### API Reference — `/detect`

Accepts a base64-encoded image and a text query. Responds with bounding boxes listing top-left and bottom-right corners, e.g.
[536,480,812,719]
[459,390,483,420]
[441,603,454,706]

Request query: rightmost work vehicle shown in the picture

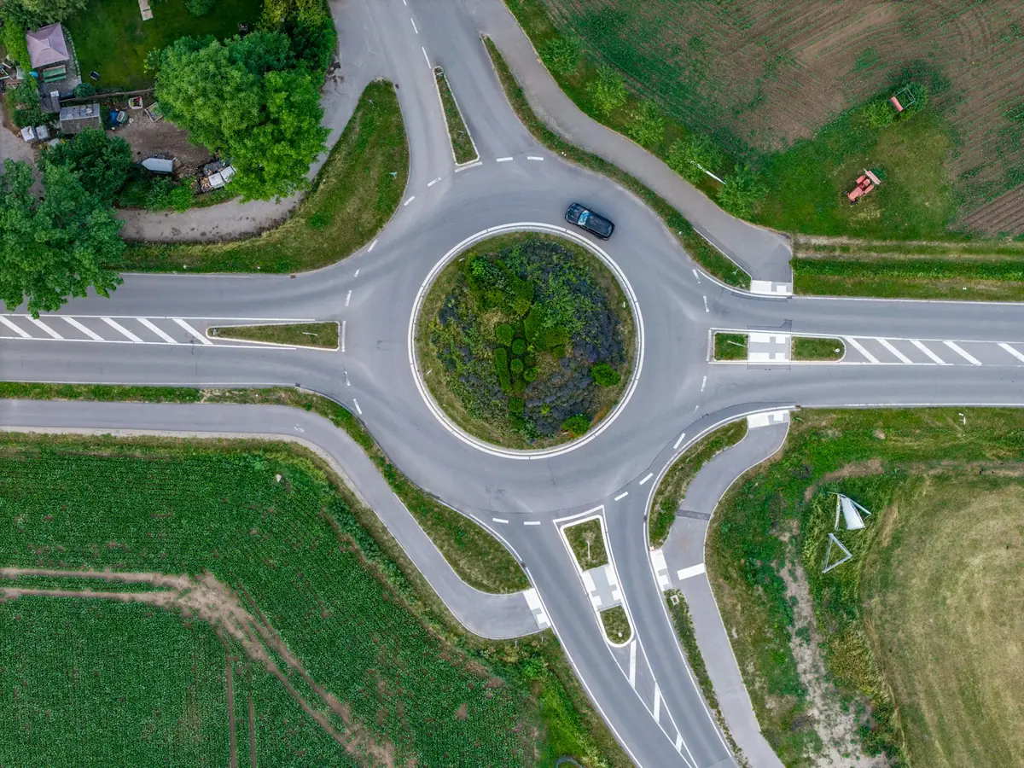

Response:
[841,170,878,209]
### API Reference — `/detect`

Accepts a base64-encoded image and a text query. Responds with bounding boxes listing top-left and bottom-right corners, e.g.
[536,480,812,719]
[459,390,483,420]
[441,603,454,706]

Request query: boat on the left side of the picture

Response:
[142,158,176,173]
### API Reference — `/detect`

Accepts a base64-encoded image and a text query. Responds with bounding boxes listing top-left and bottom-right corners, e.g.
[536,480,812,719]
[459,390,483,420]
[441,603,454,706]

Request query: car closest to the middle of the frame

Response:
[564,203,617,240]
